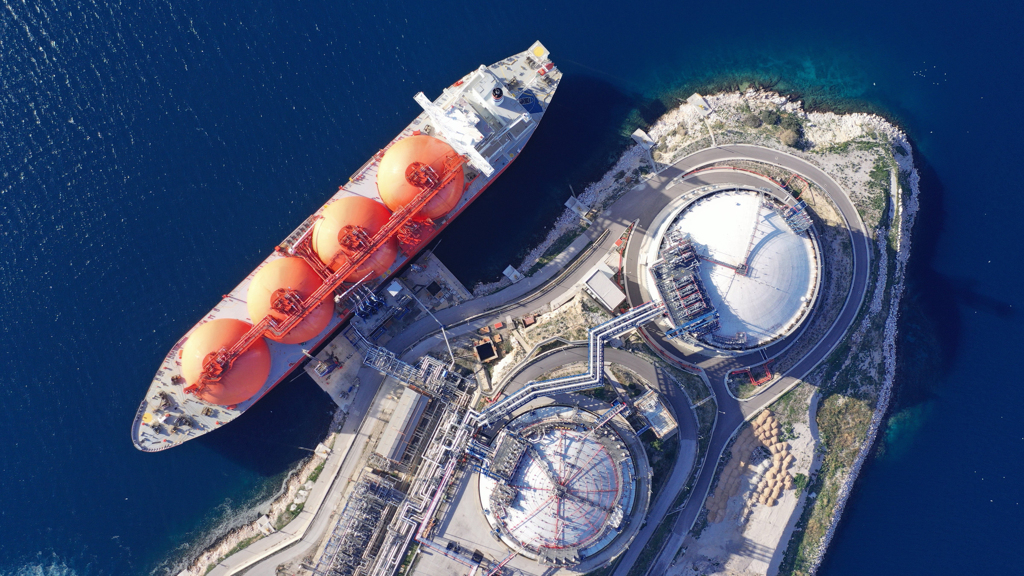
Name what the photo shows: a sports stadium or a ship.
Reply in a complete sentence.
Visible in the photo is a ship.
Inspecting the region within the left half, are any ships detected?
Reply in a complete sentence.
Yes, you'll find a ship within the left half.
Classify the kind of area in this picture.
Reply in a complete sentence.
This looks like an industrial area.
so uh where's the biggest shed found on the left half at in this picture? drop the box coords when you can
[376,385,431,462]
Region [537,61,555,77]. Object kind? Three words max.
boat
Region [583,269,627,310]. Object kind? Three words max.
building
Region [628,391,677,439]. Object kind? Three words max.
building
